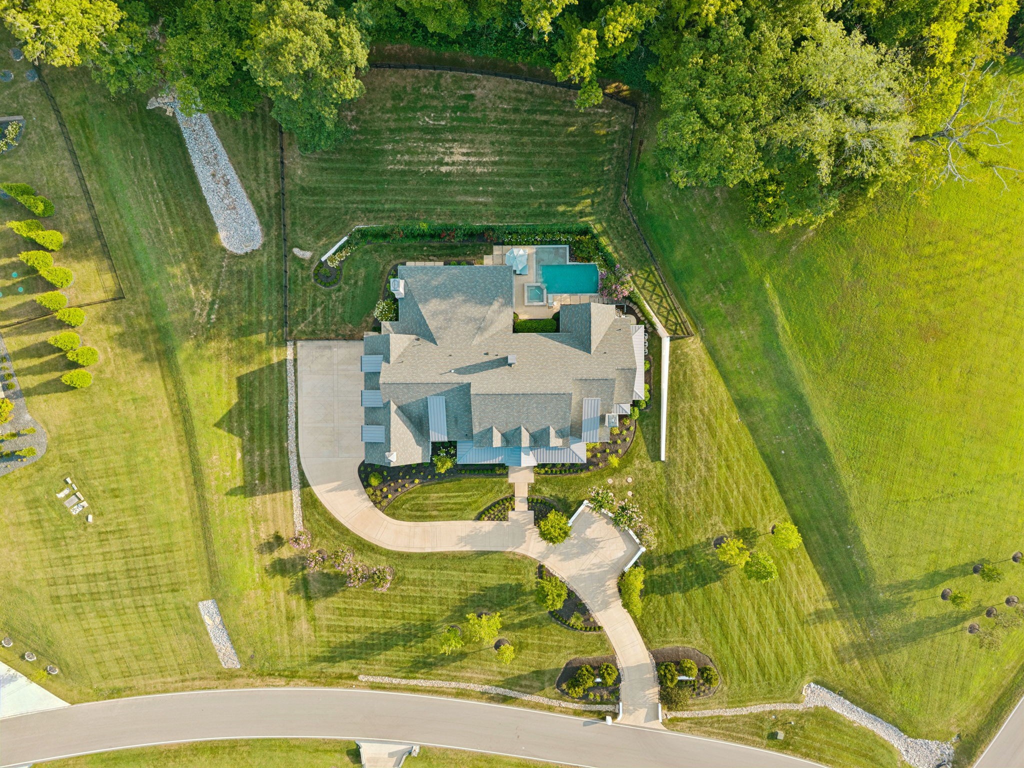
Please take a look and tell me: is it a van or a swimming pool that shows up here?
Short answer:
swimming pool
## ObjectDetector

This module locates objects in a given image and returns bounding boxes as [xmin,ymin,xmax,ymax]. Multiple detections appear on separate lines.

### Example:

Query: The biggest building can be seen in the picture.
[360,265,645,467]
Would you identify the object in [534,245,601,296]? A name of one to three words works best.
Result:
swimming pool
